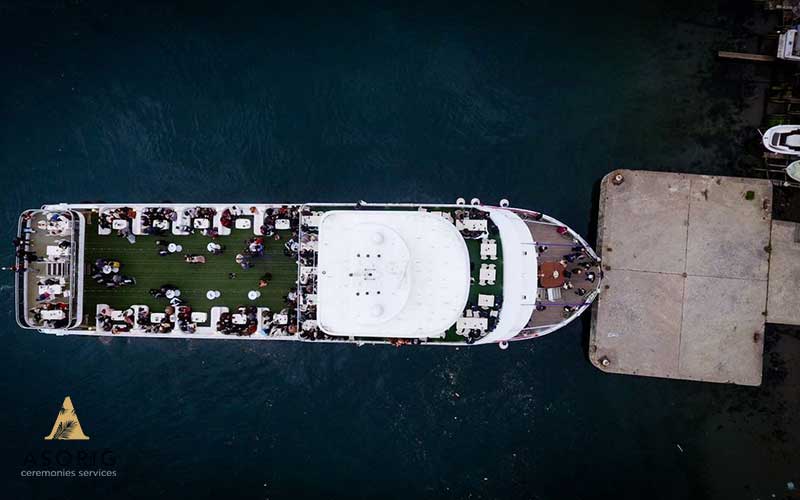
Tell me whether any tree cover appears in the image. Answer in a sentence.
No, tree cover can't be seen anywhere here.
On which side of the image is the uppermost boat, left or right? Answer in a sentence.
You can find the uppermost boat on the right side of the picture.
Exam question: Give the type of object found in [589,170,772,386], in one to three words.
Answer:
pier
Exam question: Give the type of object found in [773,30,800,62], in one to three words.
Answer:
boat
